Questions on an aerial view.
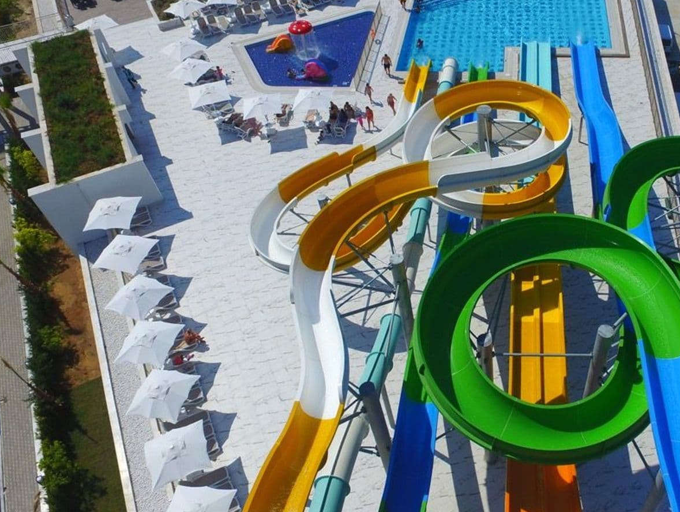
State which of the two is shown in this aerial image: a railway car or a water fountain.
water fountain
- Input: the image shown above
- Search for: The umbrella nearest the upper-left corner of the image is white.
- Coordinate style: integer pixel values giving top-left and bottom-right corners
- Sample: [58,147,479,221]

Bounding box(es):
[77,16,119,39]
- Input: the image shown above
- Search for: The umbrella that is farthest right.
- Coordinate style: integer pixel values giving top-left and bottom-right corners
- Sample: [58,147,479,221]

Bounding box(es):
[288,88,335,129]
